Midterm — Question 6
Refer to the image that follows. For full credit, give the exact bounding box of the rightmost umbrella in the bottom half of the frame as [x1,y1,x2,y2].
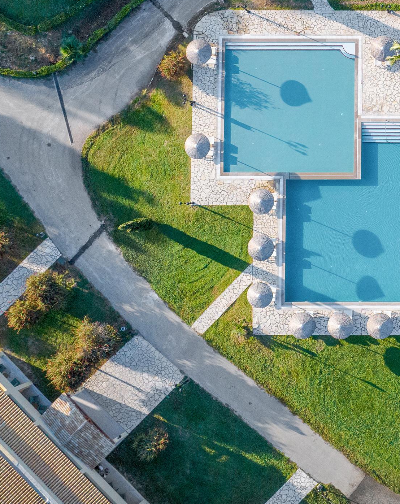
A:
[368,312,392,337]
